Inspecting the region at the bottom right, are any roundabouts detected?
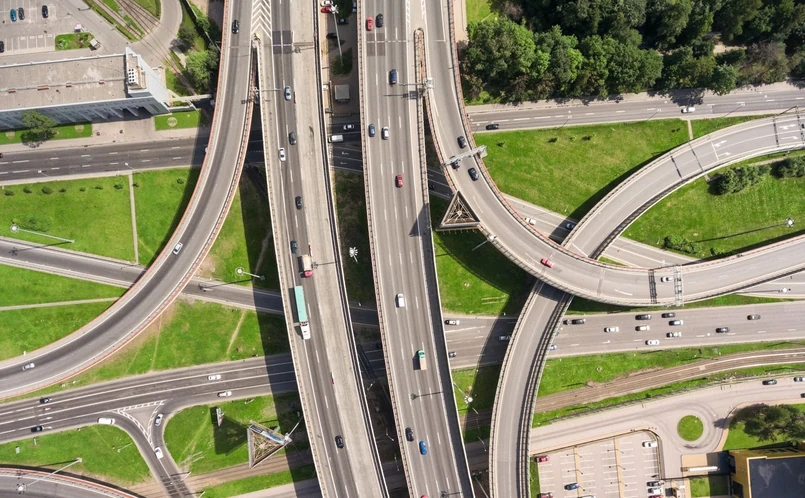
Yes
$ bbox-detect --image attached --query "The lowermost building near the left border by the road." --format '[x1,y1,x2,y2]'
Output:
[0,47,170,130]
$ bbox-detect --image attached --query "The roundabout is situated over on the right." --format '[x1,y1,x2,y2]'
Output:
[660,396,721,461]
